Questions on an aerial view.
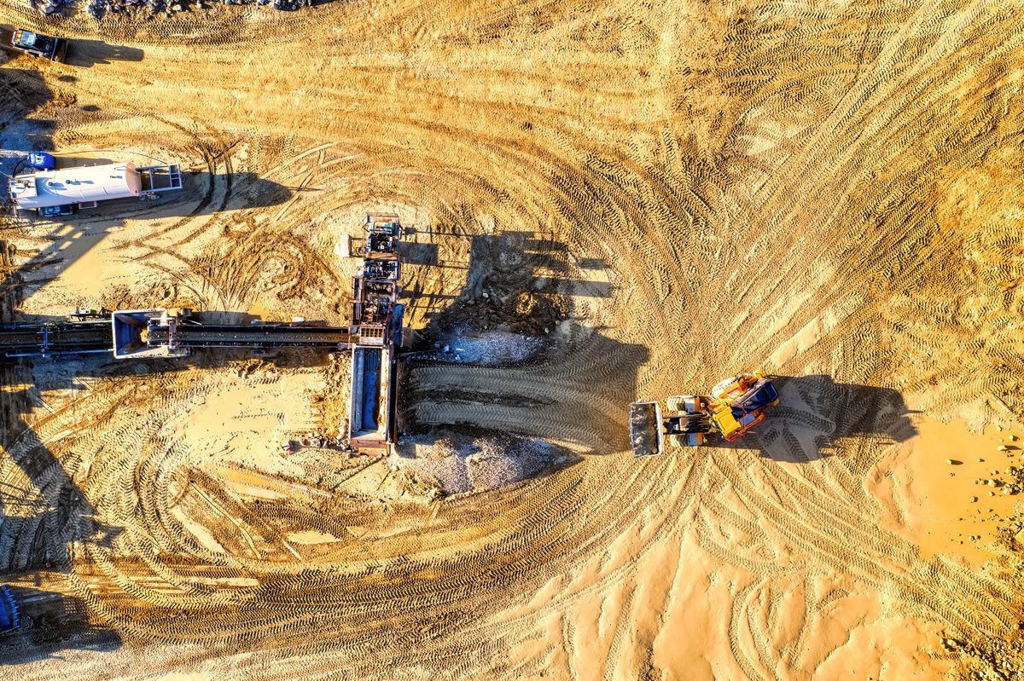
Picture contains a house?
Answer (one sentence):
No, I can see no house in this picture.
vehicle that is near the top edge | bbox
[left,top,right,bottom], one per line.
[10,21,71,63]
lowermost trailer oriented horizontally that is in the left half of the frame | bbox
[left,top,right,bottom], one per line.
[0,163,183,213]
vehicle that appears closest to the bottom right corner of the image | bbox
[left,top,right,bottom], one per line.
[628,367,783,454]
